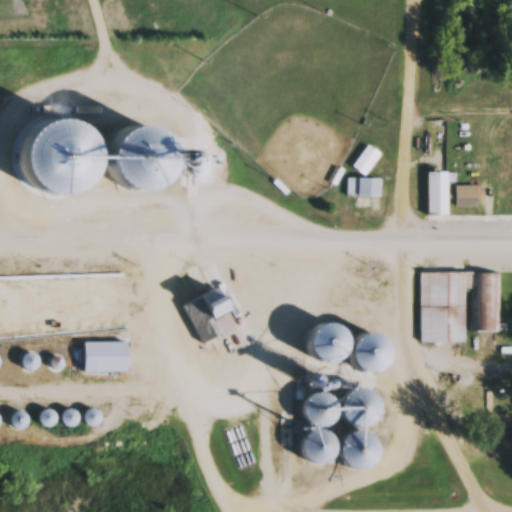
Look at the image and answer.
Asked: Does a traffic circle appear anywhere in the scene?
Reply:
No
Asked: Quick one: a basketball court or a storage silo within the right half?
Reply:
storage silo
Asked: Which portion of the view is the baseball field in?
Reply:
top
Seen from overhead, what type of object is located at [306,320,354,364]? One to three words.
silo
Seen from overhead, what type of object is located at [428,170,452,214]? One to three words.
shed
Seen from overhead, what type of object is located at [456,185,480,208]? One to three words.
house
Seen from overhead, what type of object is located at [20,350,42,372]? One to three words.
silo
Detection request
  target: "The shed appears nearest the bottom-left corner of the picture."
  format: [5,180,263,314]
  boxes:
[84,342,130,372]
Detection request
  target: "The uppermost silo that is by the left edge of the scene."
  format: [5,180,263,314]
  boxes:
[14,113,109,201]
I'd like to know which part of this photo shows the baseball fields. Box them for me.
[172,0,400,201]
